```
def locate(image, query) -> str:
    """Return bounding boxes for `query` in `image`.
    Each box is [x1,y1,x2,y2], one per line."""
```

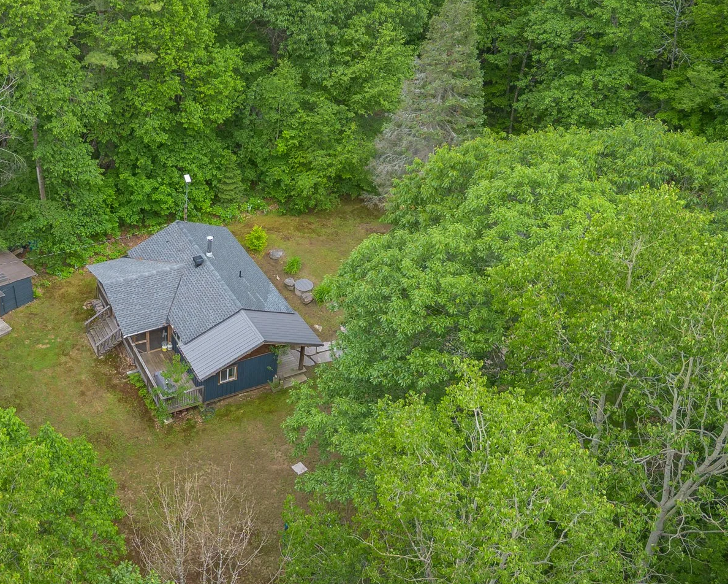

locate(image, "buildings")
[0,239,38,339]
[83,221,324,421]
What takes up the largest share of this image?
trees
